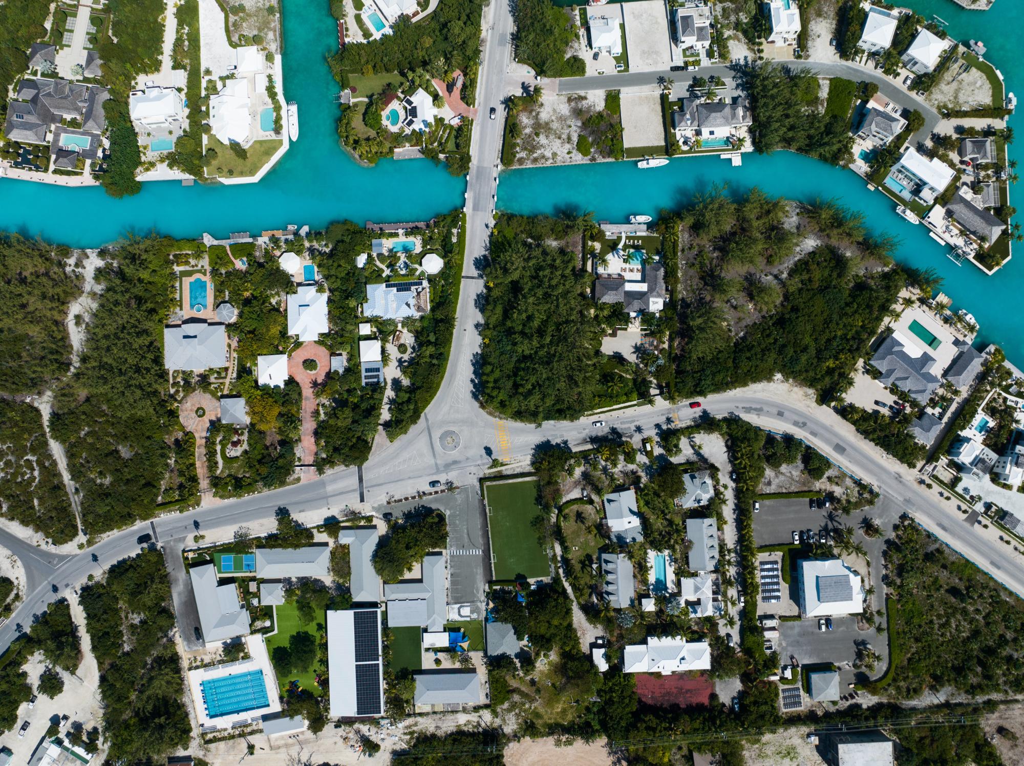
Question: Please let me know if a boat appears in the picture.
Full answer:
Yes, a boat appears in the view.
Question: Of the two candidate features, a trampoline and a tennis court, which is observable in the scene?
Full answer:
It is a tennis court that can be seen here.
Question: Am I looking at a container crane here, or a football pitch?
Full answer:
There is a football pitch in the scene.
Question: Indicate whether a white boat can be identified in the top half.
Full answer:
Yes, I can see a white boat in the top half.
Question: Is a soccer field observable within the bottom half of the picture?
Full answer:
Yes, looking within the bottom half of the picture, one can make out a soccer field.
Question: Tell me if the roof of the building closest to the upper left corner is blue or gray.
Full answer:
From above, the roof of the building closest to the upper left corner appears gray.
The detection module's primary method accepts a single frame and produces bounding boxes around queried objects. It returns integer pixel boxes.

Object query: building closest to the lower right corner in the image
[827,730,894,766]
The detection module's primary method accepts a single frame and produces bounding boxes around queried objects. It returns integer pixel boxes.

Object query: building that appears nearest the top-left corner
[28,42,61,69]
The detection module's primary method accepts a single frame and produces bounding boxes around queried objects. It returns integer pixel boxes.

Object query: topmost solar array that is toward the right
[760,558,786,602]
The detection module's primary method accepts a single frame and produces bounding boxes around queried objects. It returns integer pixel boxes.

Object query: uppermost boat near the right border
[970,40,987,56]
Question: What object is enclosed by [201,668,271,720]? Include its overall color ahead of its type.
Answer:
blue swimming pool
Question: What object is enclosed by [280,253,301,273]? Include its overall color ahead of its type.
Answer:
white gazebo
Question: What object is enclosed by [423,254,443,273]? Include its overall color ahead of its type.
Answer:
white gazebo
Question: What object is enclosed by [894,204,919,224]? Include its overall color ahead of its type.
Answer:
white boat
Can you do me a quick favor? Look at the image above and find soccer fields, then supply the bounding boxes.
[485,480,550,581]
